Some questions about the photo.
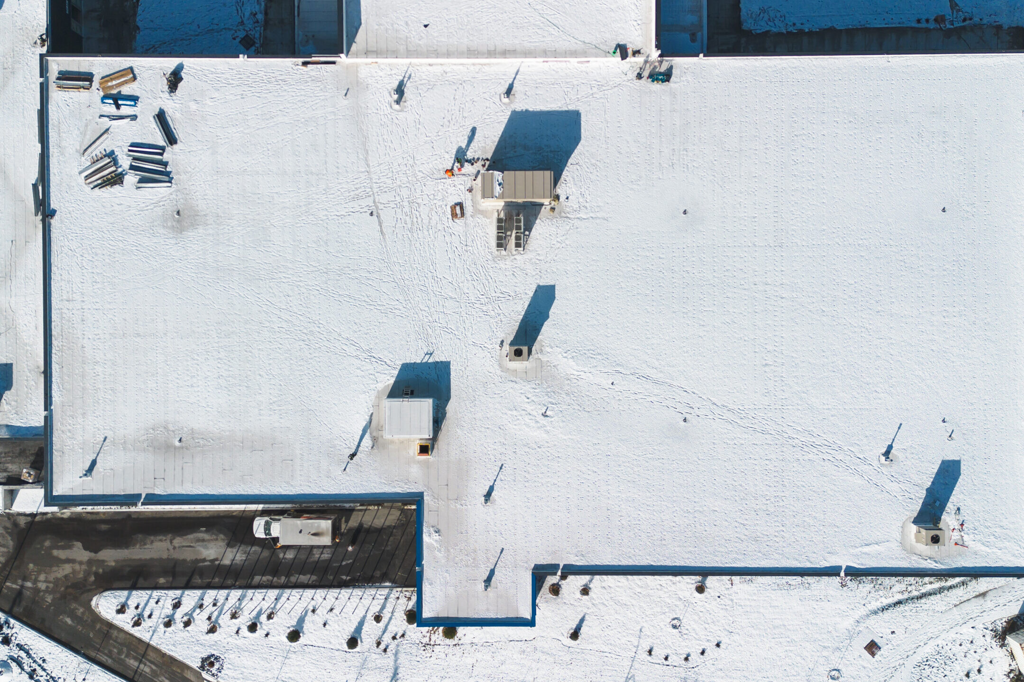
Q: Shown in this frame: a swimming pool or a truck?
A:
truck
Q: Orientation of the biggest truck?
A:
from left to right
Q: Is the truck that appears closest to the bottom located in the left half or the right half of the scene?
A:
left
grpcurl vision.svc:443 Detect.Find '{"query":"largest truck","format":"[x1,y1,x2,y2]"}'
[254,510,344,549]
